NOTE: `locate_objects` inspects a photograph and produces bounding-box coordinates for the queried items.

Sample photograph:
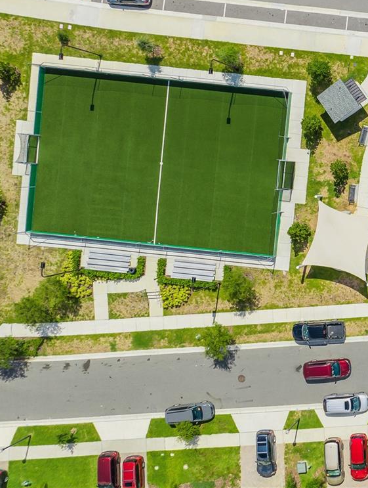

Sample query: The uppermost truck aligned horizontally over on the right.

[293,323,349,345]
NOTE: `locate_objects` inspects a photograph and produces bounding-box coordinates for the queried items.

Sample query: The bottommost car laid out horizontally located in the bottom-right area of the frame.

[324,392,368,414]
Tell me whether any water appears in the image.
No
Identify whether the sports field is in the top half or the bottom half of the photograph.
top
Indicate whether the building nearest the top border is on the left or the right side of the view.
right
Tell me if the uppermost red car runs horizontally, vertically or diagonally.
horizontally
